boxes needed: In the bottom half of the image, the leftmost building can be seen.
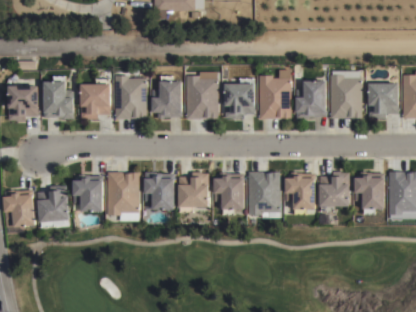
[2,190,35,228]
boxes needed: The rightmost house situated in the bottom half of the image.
[389,171,416,220]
